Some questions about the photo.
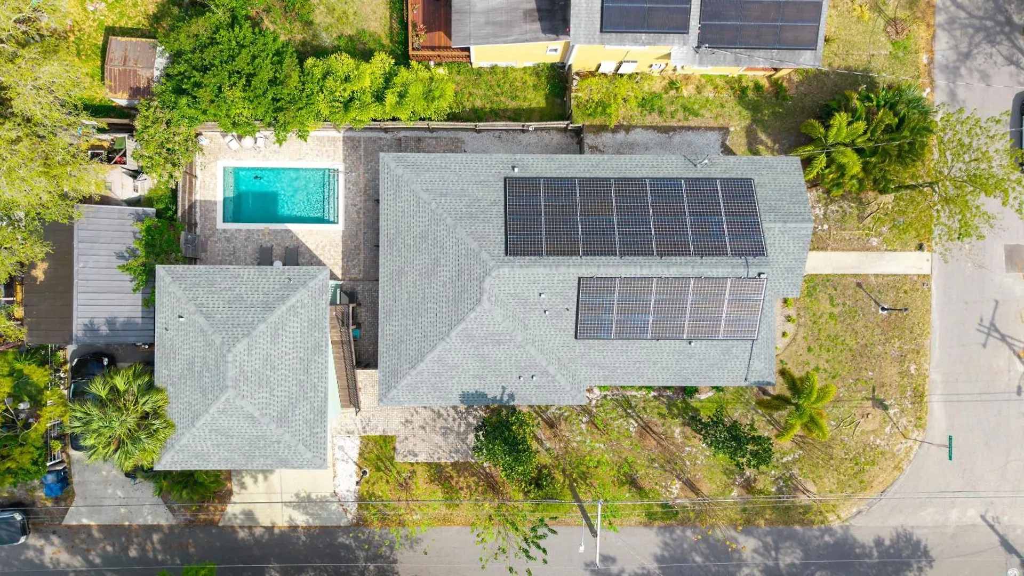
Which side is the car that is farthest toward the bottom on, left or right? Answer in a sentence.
The car that is farthest toward the bottom is on the left side of the image.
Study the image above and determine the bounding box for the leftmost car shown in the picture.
[0,505,36,545]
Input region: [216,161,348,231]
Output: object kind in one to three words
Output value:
swimming pool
